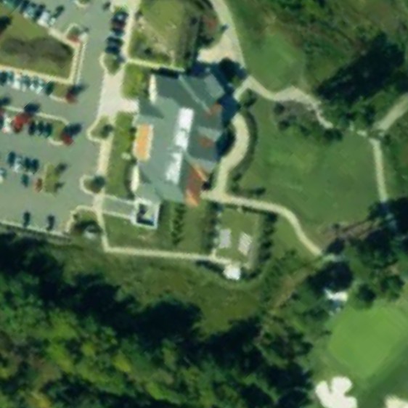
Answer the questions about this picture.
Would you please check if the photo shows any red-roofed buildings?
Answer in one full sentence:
No, there isn't any red-roofed building down there.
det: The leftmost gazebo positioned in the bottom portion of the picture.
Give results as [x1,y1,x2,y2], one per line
[223,264,240,282]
